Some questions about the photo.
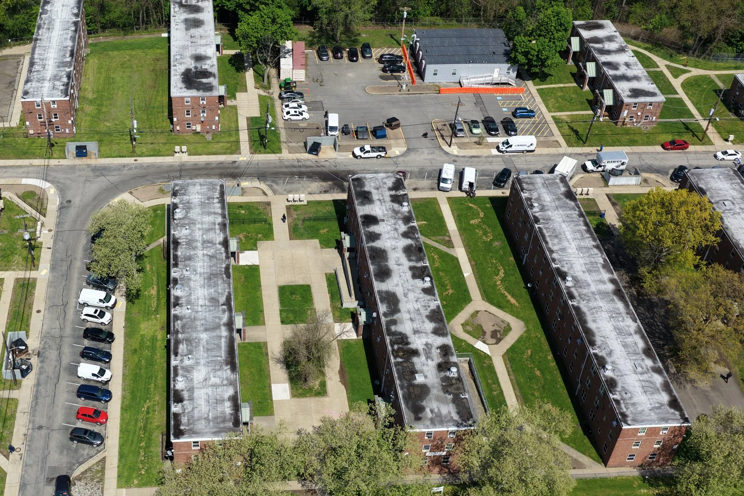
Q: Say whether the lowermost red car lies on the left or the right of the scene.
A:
left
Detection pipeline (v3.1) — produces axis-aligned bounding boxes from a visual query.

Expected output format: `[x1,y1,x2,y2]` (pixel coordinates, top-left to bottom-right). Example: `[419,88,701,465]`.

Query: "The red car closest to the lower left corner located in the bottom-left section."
[74,406,110,426]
